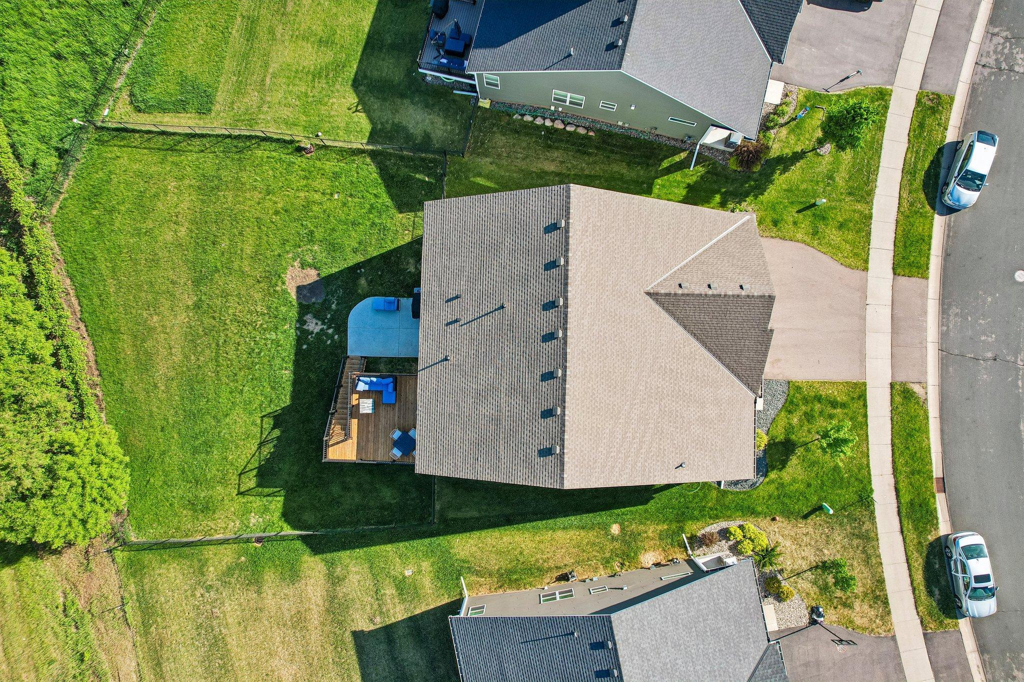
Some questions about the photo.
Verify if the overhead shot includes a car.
Yes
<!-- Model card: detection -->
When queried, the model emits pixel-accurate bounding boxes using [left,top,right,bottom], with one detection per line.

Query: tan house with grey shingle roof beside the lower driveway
[448,534,796,682]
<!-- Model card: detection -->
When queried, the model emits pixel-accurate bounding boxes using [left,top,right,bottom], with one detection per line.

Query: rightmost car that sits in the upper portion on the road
[942,129,998,211]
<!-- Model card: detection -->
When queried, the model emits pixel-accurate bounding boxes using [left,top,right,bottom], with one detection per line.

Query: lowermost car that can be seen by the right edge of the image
[945,530,999,621]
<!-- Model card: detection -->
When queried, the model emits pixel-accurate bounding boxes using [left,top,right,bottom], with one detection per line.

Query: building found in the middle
[412,183,776,491]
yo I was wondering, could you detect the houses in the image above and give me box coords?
[454,0,809,169]
[412,183,776,491]
[448,534,796,682]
